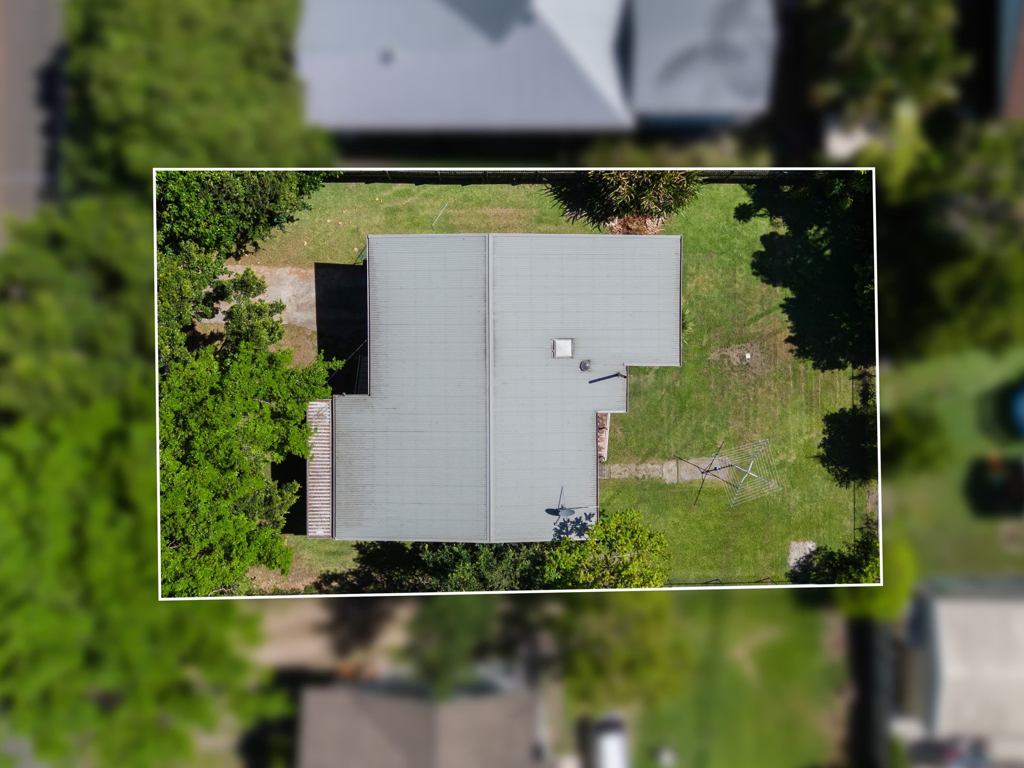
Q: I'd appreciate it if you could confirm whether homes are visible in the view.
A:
Yes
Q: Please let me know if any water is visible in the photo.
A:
No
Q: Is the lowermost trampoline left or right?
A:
right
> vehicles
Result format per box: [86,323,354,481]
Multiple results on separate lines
[592,737,638,768]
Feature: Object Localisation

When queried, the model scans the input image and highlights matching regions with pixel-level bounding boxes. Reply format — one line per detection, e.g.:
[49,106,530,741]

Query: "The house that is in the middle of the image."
[305,232,685,543]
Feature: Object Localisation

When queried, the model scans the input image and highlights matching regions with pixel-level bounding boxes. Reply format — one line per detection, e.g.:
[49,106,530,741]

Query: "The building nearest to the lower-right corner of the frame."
[894,582,1024,746]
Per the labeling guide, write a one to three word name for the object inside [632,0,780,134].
house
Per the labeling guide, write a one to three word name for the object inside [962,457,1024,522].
trampoline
